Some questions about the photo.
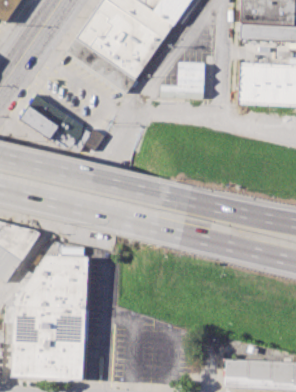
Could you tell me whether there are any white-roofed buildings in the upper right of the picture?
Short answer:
Yes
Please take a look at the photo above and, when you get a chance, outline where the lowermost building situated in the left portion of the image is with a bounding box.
[10,256,90,381]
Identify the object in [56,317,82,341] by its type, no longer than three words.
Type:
solar array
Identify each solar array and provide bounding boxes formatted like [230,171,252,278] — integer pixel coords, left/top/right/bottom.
[56,317,82,341]
[16,318,38,341]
